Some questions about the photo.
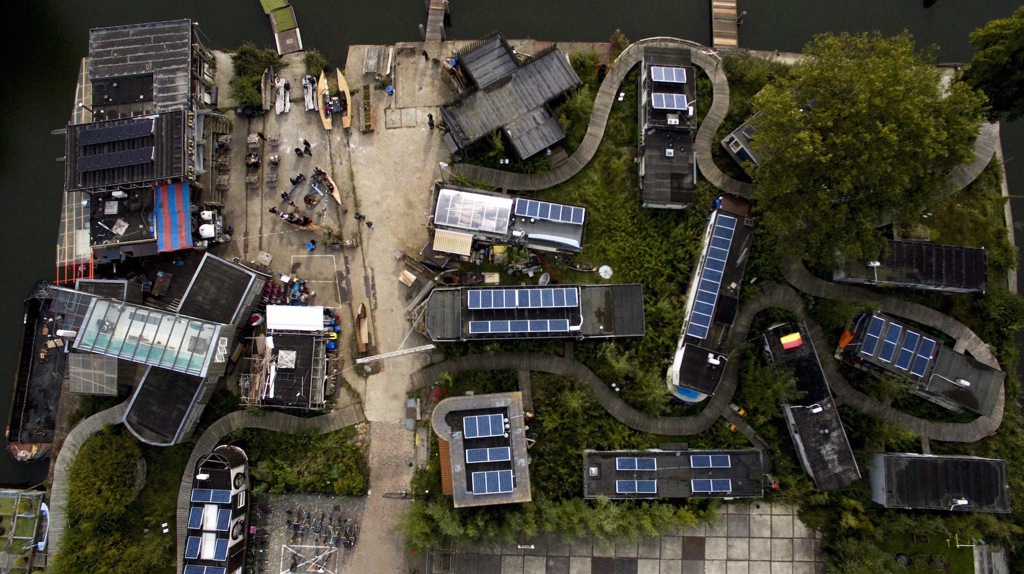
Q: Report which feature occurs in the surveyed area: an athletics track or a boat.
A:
boat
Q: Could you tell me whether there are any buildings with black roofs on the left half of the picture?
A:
Yes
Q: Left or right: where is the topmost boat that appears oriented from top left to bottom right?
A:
left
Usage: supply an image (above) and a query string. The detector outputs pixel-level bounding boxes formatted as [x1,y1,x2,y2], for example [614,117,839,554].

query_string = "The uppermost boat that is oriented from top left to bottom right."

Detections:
[318,169,341,204]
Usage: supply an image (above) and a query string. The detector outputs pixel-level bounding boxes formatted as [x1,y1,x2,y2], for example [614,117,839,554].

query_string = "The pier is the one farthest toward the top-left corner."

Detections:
[261,0,303,55]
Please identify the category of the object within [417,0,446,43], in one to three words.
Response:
pier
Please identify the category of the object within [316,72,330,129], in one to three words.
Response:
boat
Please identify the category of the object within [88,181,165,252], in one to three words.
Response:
building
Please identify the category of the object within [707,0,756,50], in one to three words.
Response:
pier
